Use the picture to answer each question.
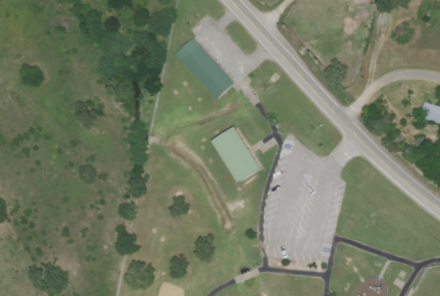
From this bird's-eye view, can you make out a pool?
No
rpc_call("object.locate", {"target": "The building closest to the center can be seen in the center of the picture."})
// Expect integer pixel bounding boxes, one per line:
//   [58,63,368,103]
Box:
[212,126,262,184]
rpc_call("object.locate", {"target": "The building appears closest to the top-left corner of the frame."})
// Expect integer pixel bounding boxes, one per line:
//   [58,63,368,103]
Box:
[176,38,235,100]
